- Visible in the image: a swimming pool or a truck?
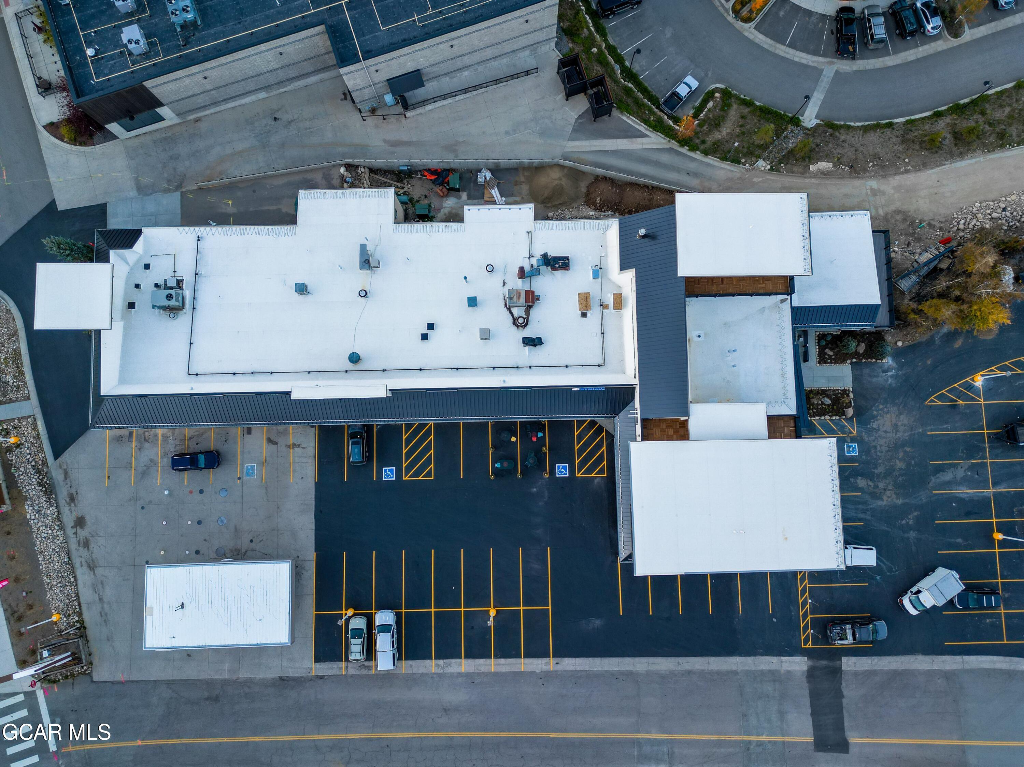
truck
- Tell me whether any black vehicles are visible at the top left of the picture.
No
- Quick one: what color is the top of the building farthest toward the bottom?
white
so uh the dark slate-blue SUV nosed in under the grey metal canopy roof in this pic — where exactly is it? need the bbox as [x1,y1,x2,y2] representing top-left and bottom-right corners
[345,425,371,468]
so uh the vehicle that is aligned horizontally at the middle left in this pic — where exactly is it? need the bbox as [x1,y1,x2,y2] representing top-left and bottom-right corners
[169,447,225,473]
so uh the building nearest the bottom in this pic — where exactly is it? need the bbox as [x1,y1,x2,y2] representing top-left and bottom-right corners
[33,187,897,576]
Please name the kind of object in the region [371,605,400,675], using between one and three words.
vehicle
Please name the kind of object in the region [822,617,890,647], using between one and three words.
truck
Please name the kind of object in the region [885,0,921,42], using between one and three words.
car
